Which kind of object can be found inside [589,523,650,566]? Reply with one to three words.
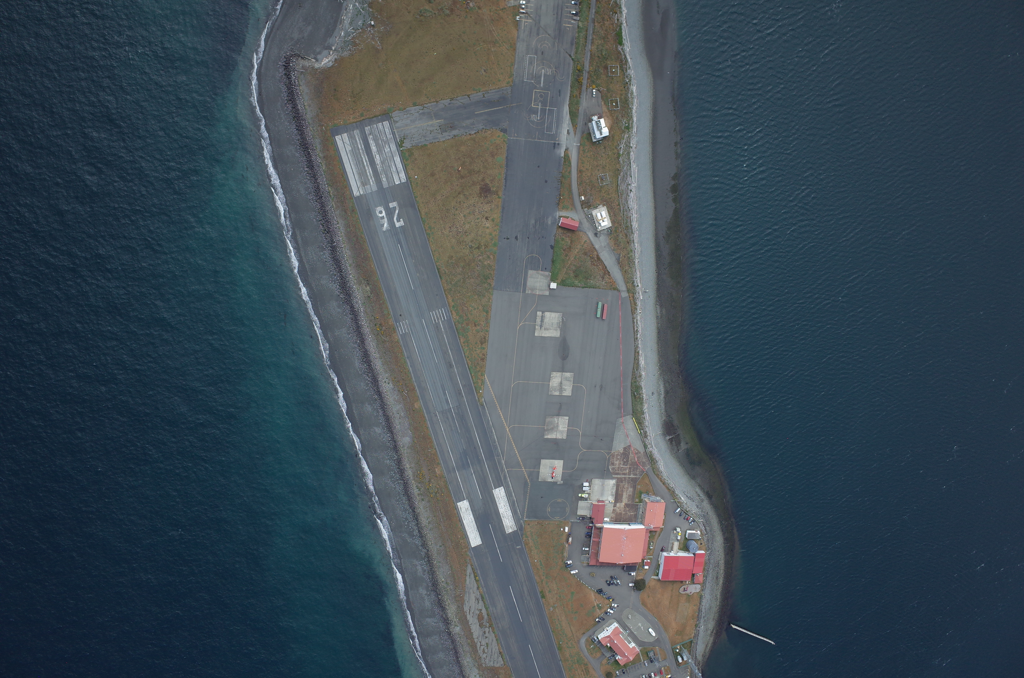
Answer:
hangar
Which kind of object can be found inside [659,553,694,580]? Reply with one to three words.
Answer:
building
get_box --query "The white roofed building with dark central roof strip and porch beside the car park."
[589,113,609,142]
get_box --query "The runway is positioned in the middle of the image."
[330,114,565,678]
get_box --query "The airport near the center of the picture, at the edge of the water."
[330,0,651,678]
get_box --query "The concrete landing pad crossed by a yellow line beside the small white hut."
[526,270,551,295]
